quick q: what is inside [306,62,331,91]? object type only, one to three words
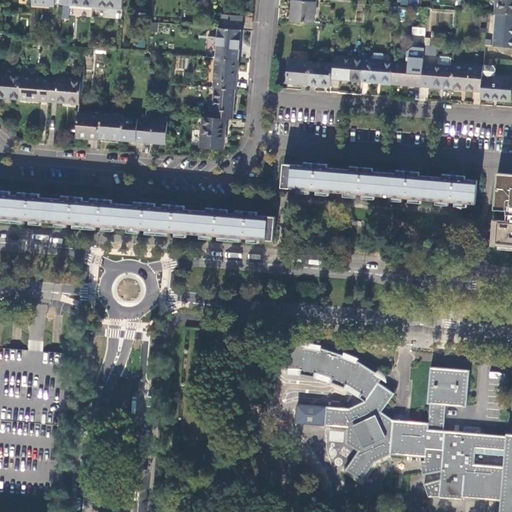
house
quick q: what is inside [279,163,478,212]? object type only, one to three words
building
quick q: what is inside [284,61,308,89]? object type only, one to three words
house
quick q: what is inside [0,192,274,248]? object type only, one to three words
building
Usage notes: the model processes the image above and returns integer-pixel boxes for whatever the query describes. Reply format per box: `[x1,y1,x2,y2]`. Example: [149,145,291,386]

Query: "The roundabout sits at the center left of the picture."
[84,254,177,321]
